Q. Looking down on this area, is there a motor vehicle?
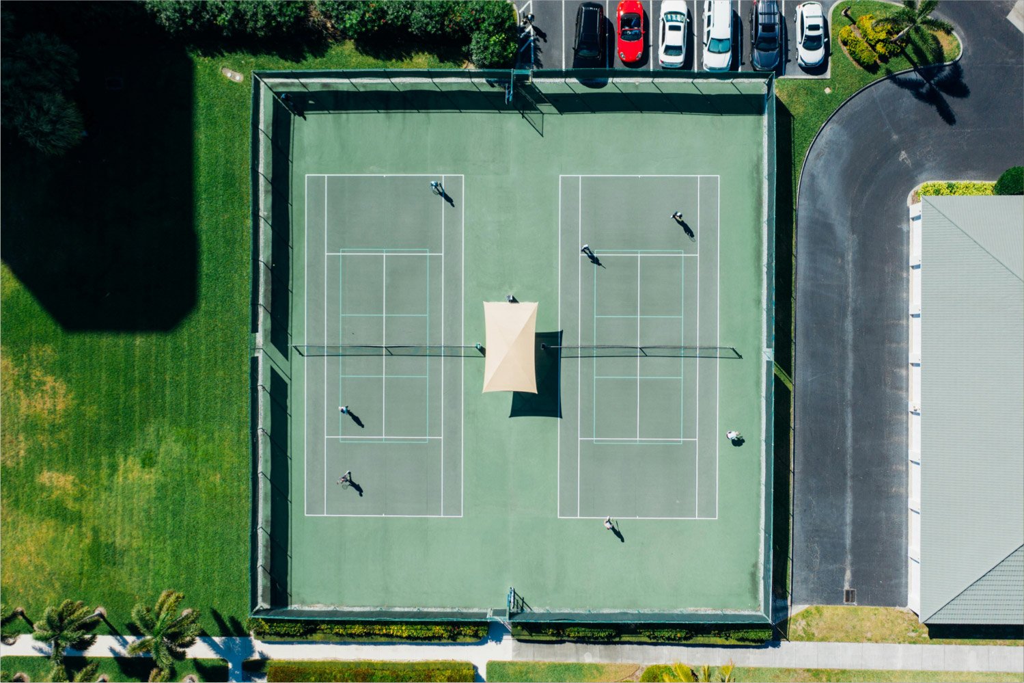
Yes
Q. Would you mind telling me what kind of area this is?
sports ground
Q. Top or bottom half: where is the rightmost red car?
top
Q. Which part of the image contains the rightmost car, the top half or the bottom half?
top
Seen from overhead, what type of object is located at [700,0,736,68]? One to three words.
car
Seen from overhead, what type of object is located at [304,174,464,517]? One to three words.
tennis court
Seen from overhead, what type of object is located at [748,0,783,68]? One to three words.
car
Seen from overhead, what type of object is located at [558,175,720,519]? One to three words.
tennis court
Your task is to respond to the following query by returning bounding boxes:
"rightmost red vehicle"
[614,0,647,61]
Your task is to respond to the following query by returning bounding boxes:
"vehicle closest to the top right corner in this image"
[794,0,829,67]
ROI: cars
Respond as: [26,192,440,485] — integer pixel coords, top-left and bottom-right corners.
[614,0,647,61]
[748,0,783,68]
[794,0,829,67]
[658,0,691,66]
[700,0,736,68]
[570,3,605,74]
